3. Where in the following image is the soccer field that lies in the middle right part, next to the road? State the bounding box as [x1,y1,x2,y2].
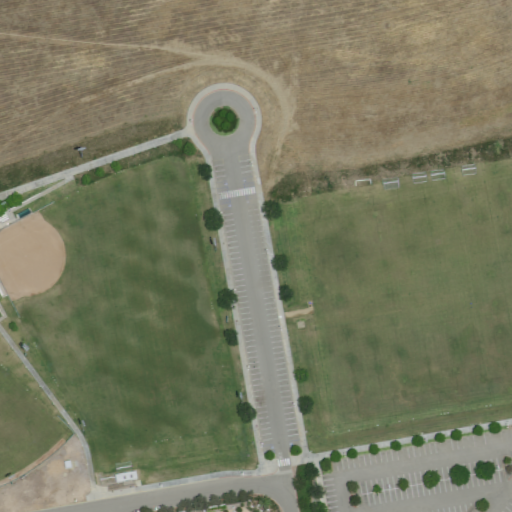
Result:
[264,158,512,453]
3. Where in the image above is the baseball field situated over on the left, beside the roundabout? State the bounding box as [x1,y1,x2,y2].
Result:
[0,138,258,487]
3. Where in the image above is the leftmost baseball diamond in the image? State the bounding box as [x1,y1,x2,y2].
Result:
[0,332,74,485]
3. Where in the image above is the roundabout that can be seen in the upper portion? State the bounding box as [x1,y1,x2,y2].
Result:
[193,89,256,140]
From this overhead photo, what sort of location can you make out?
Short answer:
sports ground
